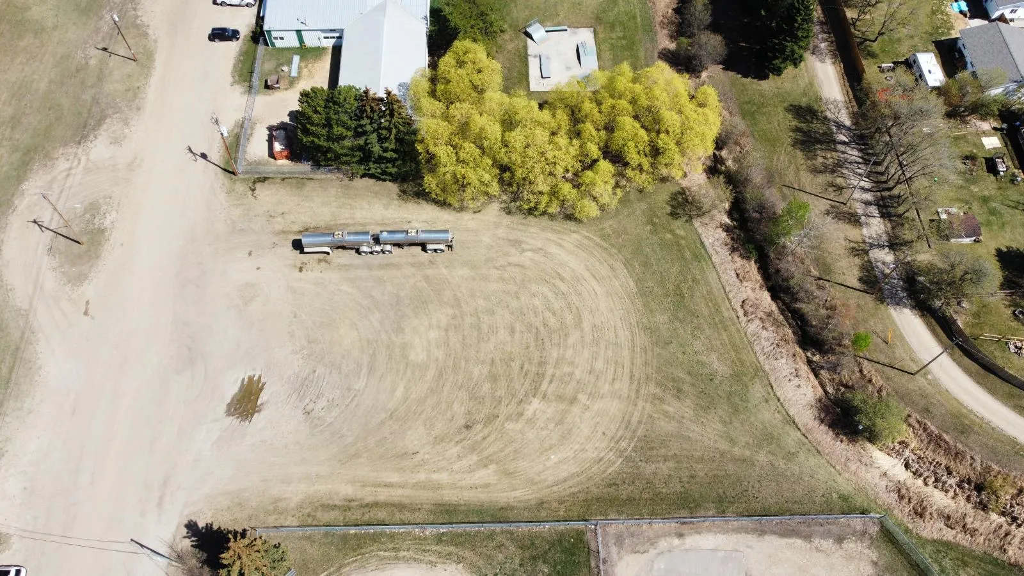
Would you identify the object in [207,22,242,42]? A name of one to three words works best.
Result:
car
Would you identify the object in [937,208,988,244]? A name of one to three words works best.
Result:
shed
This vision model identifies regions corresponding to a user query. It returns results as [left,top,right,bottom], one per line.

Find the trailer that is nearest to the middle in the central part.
[378,226,457,254]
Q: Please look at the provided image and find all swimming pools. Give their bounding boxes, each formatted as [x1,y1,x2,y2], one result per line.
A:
[951,1,971,14]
